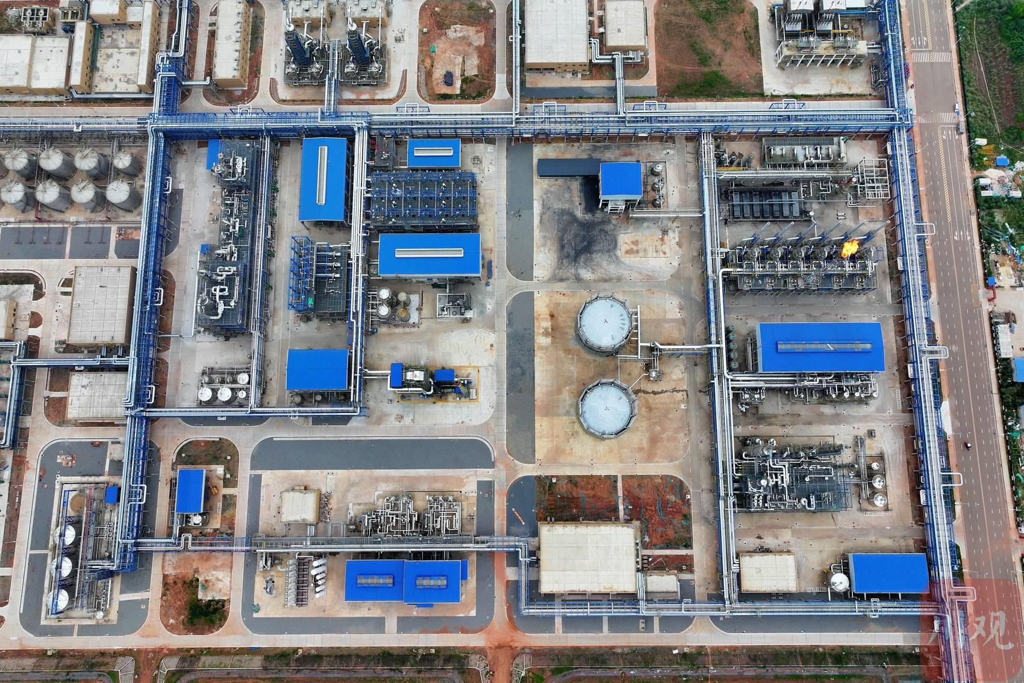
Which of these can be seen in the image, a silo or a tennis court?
silo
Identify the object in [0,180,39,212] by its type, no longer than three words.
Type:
silo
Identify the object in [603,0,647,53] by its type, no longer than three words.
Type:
building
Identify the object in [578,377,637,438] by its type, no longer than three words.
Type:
storage tank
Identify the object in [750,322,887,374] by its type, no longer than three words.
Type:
shed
